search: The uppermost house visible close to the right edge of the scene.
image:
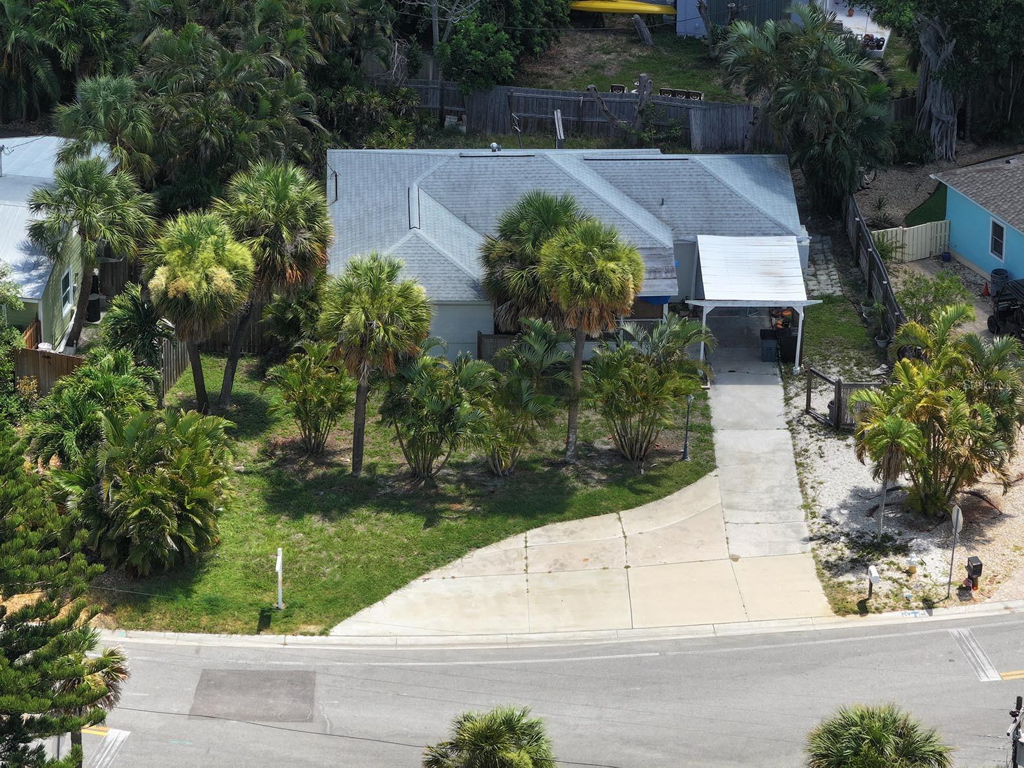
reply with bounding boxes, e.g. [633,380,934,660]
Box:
[931,152,1024,283]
